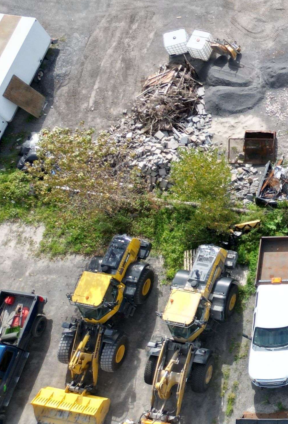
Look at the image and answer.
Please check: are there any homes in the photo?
No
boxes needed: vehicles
[235,233,288,393]
[0,16,55,112]
[121,238,246,424]
[22,224,164,424]
[0,287,51,424]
